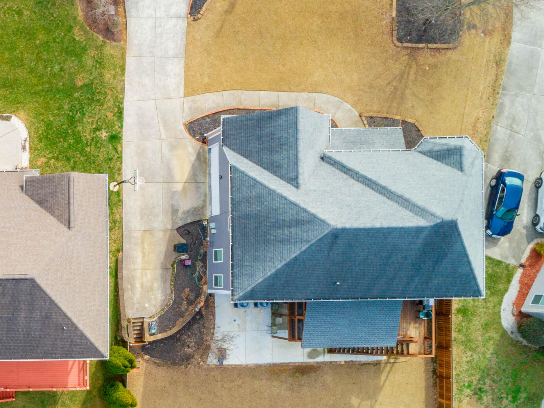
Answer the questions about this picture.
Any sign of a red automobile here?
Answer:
No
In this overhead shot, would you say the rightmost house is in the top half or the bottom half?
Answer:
bottom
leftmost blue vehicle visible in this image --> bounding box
[484,173,527,236]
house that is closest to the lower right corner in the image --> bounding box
[518,261,544,319]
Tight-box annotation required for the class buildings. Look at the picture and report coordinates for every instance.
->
[518,261,544,319]
[0,170,109,360]
[204,107,487,348]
